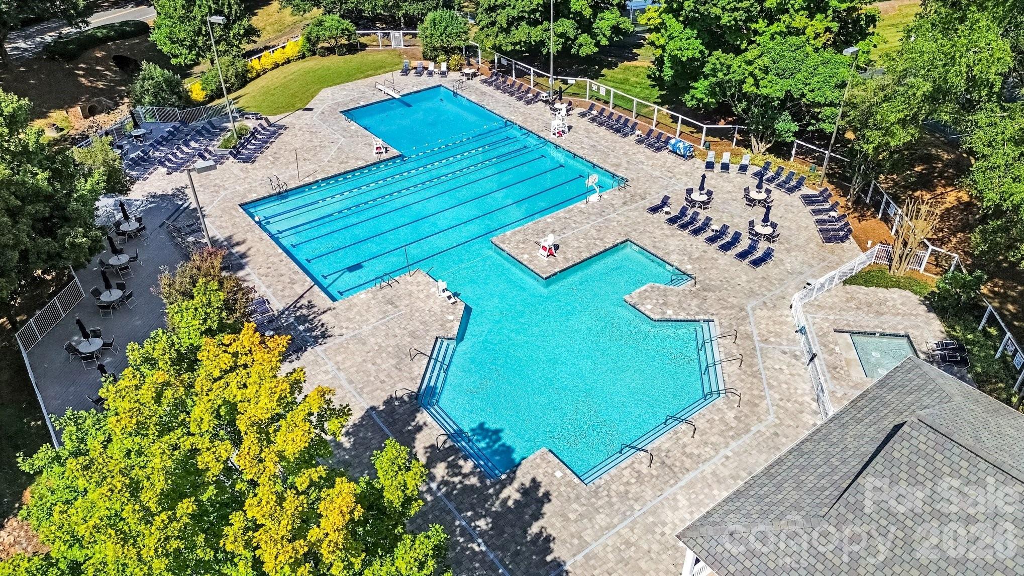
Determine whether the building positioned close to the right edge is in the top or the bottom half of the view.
bottom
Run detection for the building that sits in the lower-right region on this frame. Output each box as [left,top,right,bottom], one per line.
[672,352,1024,576]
